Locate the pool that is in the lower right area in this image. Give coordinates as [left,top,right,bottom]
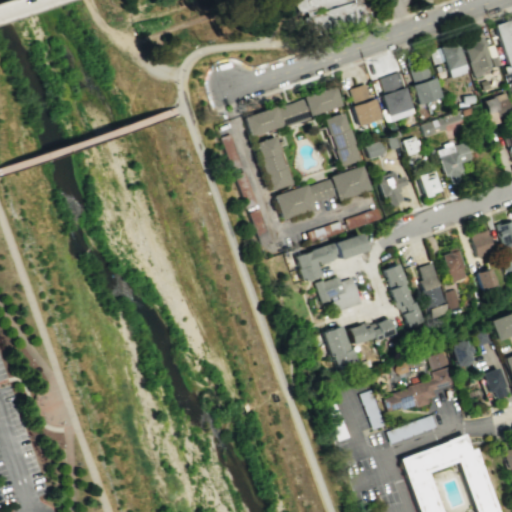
[444,480,464,508]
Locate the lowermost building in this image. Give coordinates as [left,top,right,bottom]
[404,435,504,512]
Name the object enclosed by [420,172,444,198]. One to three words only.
house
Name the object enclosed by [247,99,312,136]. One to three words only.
building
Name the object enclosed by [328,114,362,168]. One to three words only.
building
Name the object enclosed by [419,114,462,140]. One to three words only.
house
